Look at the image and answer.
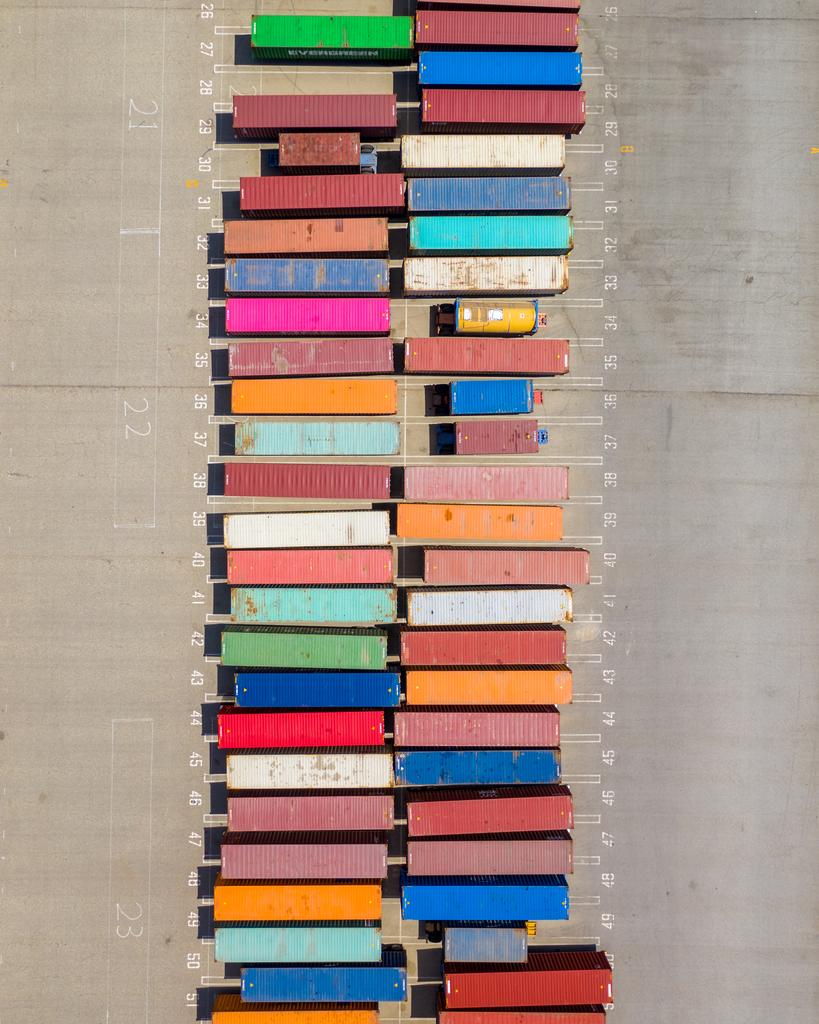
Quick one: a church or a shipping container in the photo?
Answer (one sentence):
The one in the frame is a shipping container.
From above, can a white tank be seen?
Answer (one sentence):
No, there is no white tank in the image.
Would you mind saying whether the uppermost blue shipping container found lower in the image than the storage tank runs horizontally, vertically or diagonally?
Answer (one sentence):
The uppermost blue shipping container found lower in the image than the storage tank runs horizontally in the image.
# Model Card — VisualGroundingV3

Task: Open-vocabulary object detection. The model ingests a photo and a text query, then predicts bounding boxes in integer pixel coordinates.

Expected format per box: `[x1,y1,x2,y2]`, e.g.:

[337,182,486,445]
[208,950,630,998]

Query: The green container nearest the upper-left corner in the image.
[251,15,415,60]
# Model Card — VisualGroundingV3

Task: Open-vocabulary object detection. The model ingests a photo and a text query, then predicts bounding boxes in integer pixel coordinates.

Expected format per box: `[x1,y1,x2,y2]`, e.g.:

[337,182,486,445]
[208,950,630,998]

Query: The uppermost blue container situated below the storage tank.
[449,379,533,415]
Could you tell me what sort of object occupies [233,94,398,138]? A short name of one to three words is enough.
shipping container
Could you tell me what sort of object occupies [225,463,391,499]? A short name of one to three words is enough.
shipping container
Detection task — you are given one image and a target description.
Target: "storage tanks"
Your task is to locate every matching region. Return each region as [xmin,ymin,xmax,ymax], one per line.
[458,303,535,333]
